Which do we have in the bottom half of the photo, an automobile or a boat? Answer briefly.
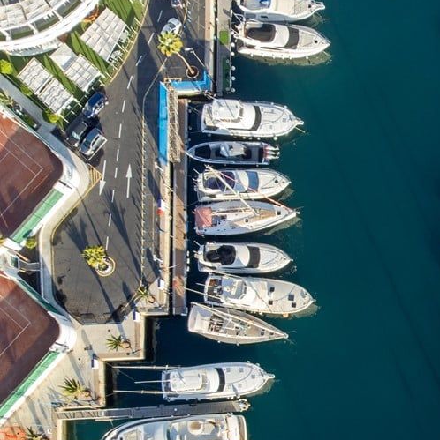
boat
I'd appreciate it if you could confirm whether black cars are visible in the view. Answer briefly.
Yes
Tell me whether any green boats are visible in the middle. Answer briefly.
No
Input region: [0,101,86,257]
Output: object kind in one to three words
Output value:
sports court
